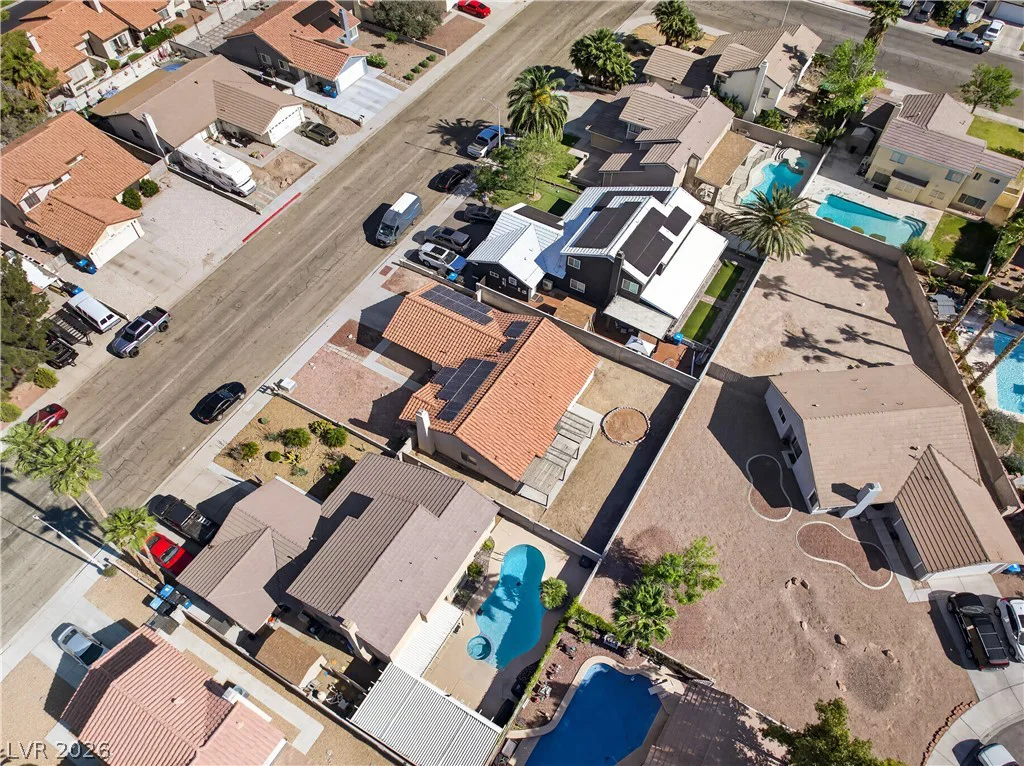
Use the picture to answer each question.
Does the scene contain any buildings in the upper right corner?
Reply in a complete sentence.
Yes, a building appears in the upper right corner.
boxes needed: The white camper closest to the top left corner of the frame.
[175,134,262,198]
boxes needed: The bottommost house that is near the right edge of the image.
[765,365,1024,585]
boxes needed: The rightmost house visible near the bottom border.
[649,677,784,766]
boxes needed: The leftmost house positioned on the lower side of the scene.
[58,622,288,766]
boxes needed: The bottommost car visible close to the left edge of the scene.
[47,621,111,675]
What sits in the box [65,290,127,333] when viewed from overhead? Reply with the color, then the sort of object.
white van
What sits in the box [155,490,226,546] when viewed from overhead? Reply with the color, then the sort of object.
black vehicle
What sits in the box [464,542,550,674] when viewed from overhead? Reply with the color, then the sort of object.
blue swimming pool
